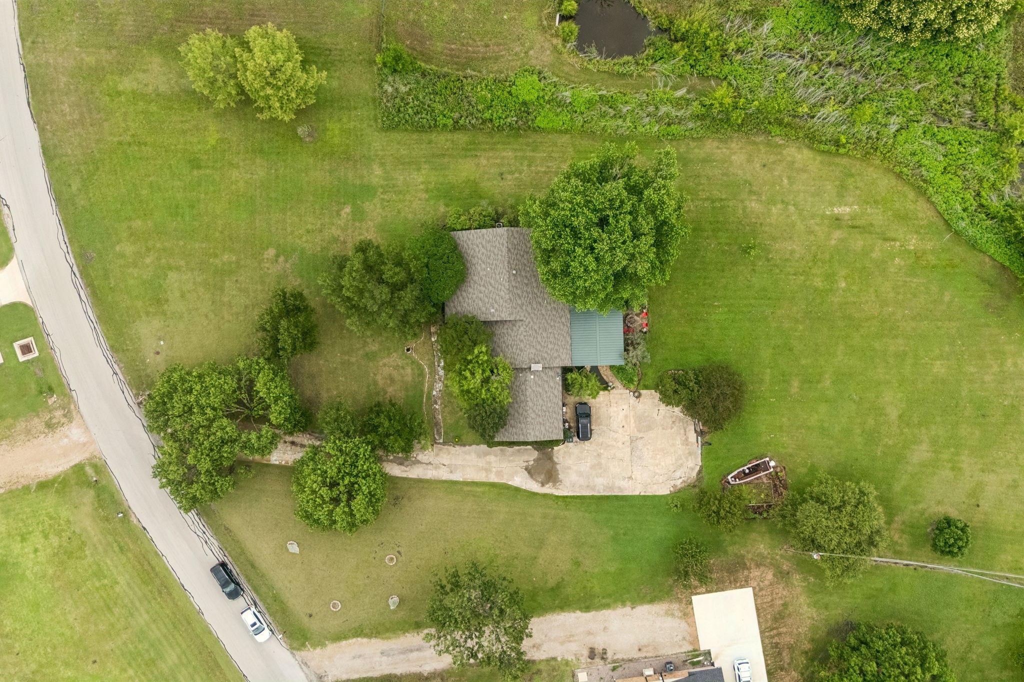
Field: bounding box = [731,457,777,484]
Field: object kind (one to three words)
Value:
boat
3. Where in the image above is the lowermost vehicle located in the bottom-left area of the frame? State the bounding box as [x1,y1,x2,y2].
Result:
[240,603,270,642]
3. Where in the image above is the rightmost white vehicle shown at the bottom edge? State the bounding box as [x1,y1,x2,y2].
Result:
[733,653,754,682]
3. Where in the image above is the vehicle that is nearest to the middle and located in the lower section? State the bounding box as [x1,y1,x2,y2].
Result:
[575,401,593,440]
